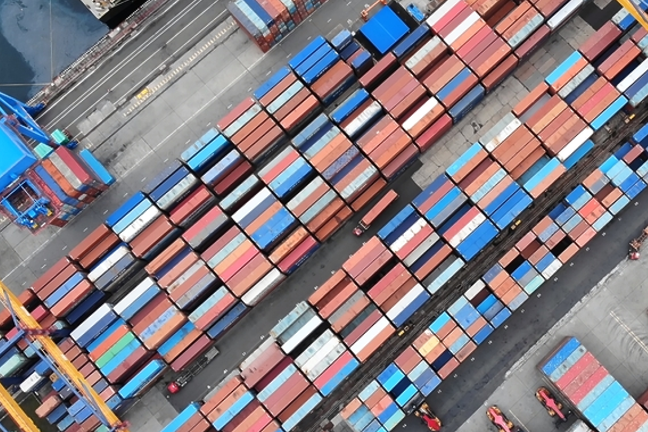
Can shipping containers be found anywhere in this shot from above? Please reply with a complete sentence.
Yes, the picture does show a shipping container.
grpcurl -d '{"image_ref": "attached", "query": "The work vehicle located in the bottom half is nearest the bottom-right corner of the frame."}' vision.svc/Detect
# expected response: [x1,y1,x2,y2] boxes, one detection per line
[536,384,576,429]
